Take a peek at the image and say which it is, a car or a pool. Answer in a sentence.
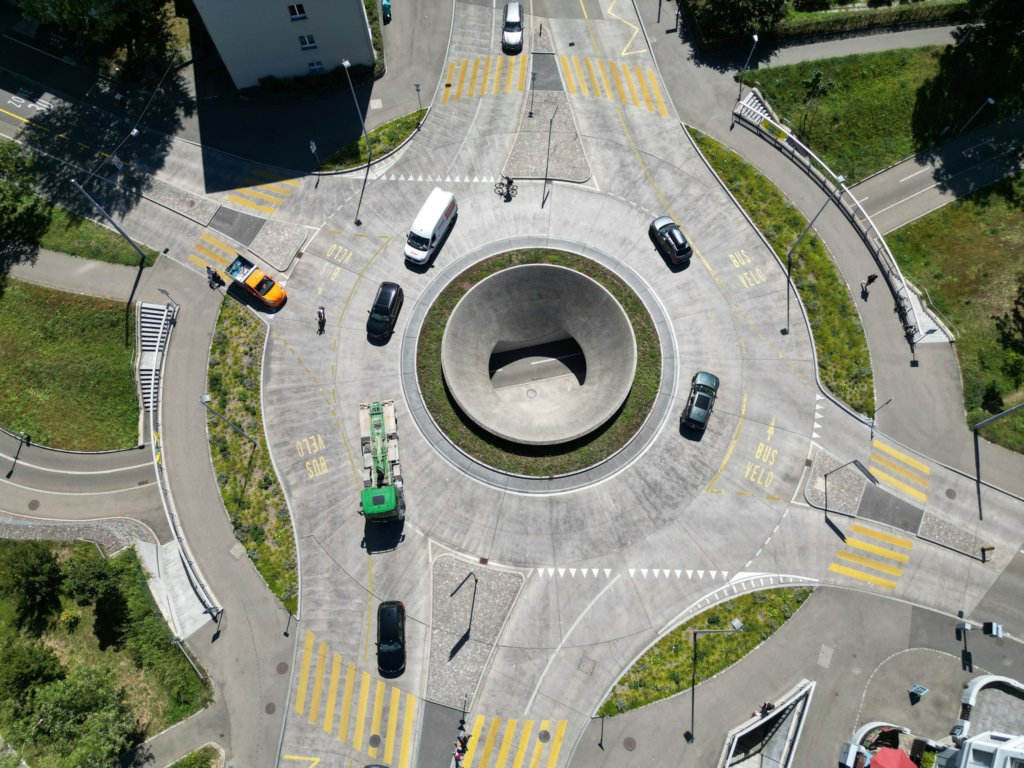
Looking from above, you can make out a car.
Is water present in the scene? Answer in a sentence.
No, water can't be seen anywhere here.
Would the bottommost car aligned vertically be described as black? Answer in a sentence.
Yes, the bottommost car aligned vertically appears black.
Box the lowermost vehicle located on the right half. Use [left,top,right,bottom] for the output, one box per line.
[682,373,718,429]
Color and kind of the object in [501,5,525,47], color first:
white car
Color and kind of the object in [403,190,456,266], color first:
white van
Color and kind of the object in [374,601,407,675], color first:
black car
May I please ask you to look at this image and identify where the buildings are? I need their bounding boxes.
[921,728,1024,768]
[197,0,375,88]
